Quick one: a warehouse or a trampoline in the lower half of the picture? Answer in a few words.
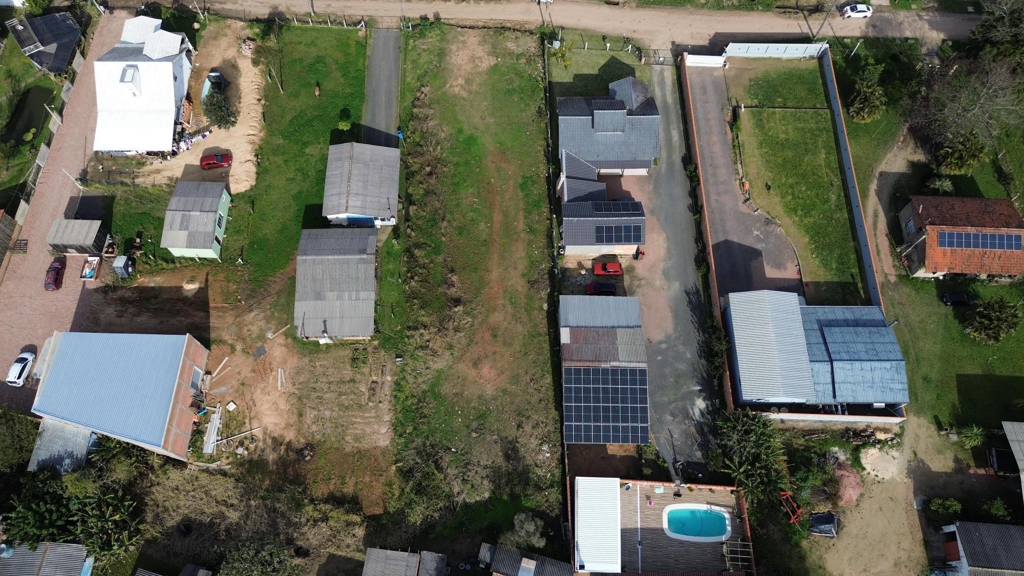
warehouse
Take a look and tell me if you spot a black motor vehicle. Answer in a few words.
Yes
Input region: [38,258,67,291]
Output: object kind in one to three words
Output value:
car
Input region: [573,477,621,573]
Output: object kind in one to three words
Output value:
shed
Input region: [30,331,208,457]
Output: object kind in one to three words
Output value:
warehouse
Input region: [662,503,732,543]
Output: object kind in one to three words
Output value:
swimming pool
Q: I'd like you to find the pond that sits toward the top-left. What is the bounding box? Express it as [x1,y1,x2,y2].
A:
[4,86,52,145]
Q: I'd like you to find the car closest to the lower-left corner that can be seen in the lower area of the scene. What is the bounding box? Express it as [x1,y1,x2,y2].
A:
[0,350,36,388]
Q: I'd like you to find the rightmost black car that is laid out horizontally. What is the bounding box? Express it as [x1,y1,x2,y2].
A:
[940,290,979,308]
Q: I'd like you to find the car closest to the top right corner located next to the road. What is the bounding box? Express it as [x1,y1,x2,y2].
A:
[841,2,876,19]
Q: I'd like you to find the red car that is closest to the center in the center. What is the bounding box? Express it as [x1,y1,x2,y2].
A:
[593,260,624,277]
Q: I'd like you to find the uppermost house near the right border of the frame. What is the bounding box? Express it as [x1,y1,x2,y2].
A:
[899,195,1024,284]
